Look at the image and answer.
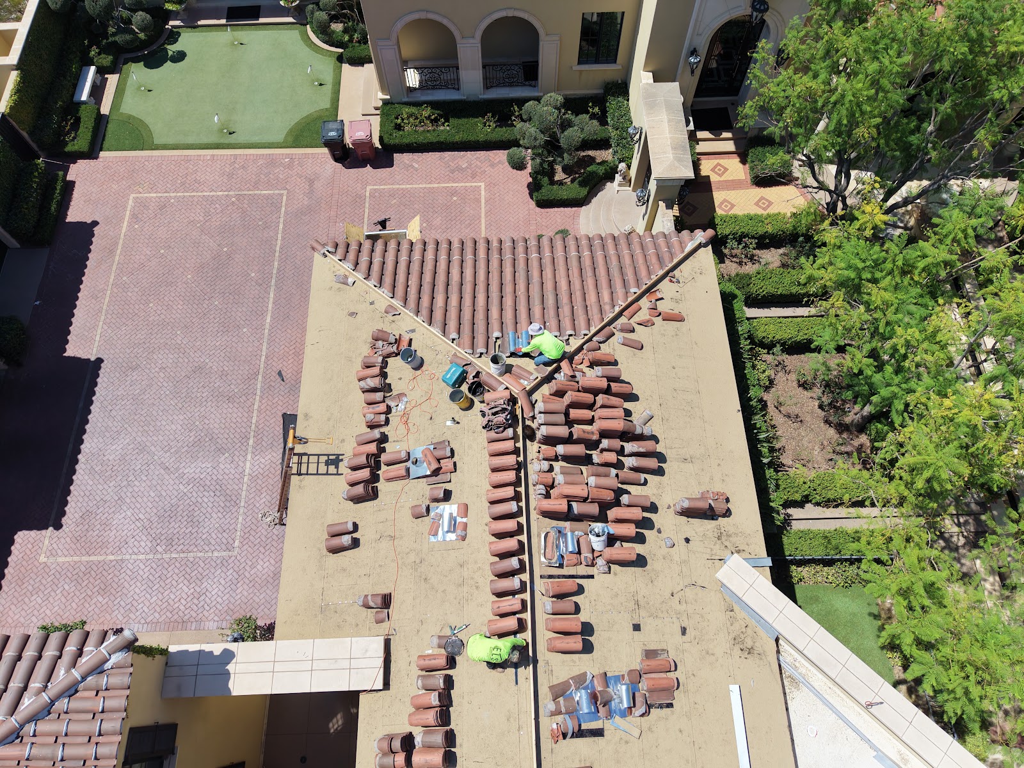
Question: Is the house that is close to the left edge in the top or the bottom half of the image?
bottom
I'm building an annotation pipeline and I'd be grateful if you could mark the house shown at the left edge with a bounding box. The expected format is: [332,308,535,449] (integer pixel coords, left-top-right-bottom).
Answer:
[0,618,258,768]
